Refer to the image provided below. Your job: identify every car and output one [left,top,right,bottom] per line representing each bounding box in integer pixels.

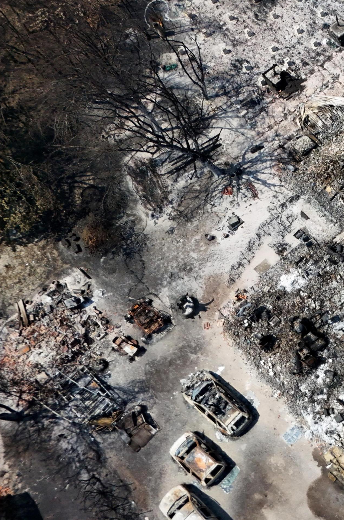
[185,371,252,438]
[174,434,228,486]
[163,488,218,520]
